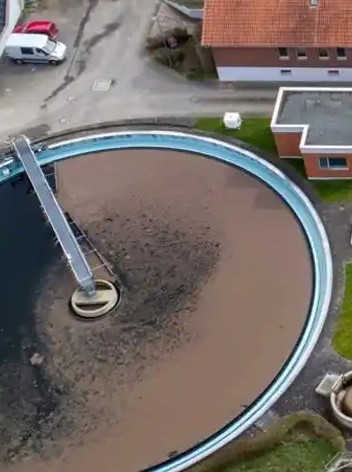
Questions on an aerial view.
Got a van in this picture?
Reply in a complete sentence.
Yes, the image includes a van.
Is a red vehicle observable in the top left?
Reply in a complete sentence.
Yes, the scene does show a red vehicle in the top left.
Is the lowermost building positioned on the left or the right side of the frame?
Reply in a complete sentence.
You can find the lowermost building on the right side of the picture.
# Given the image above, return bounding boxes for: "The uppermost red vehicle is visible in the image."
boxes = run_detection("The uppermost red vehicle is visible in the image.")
[13,19,62,39]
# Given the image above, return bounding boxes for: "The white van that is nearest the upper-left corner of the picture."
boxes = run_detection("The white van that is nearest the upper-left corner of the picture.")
[3,31,68,62]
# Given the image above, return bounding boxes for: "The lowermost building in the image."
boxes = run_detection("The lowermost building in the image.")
[271,88,352,178]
